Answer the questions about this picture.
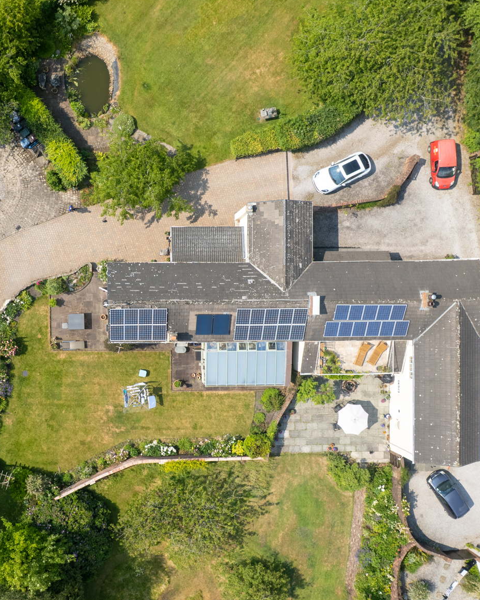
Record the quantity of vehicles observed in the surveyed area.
3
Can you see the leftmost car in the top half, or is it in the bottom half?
top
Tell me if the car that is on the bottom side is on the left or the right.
right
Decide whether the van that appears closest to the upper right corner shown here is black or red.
red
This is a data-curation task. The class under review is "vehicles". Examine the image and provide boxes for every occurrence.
[426,136,460,194]
[311,151,373,197]
[423,465,473,521]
